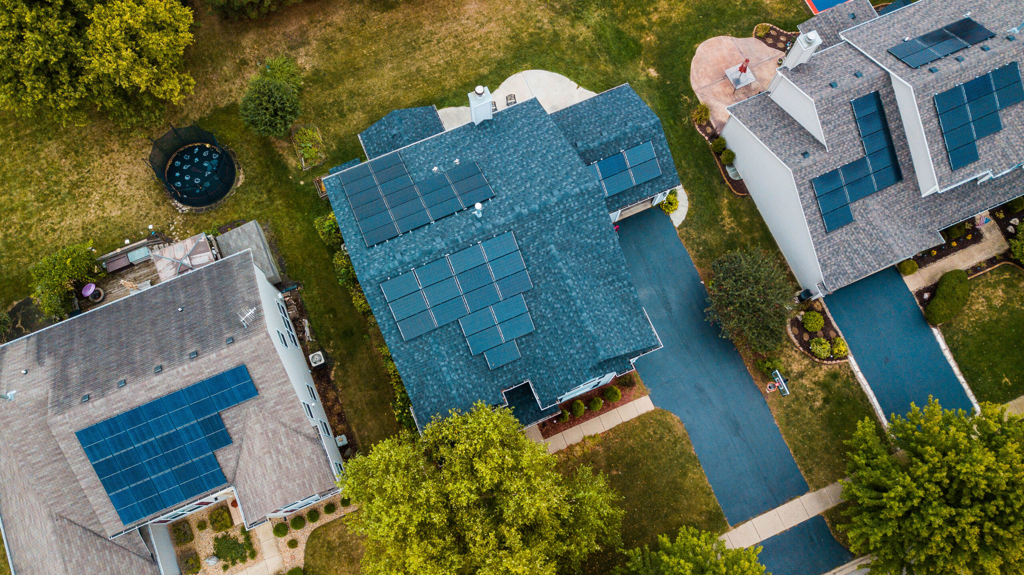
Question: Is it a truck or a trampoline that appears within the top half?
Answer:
trampoline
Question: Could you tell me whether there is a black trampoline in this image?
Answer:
Yes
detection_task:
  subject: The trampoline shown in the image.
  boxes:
[143,118,238,210]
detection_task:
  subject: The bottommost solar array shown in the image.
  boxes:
[76,366,259,525]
